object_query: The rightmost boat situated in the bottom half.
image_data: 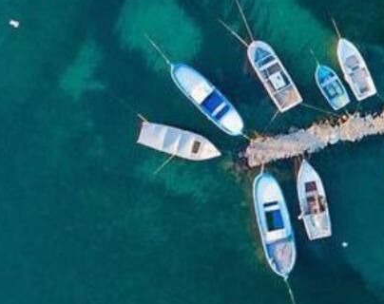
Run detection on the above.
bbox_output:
[295,150,331,241]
